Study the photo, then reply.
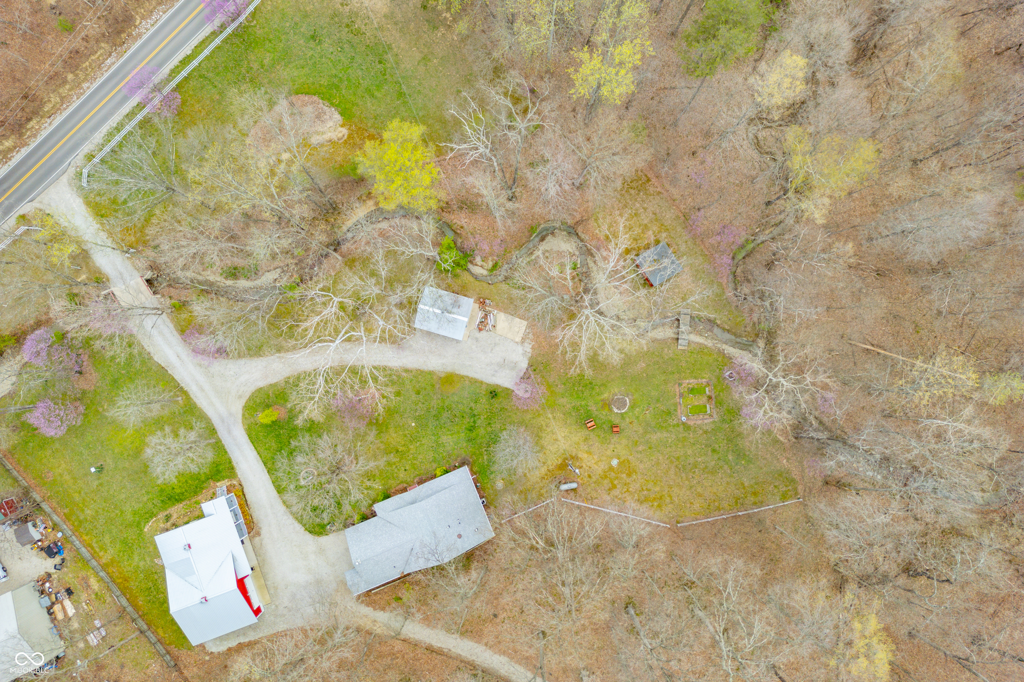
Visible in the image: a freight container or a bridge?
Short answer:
bridge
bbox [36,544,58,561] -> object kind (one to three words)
vehicle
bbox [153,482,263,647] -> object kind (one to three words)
house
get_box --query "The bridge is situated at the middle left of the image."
[101,274,158,309]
